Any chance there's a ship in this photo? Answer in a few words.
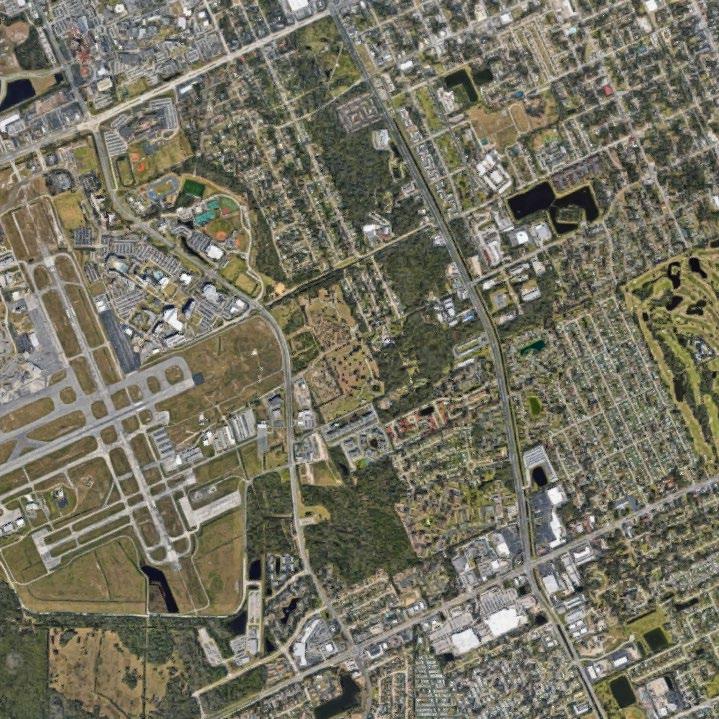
No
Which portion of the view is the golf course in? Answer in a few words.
right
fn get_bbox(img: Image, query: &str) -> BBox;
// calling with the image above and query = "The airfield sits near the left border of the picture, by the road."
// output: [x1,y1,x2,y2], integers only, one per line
[0,196,286,617]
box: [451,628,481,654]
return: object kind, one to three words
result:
building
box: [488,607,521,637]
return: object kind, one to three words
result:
building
